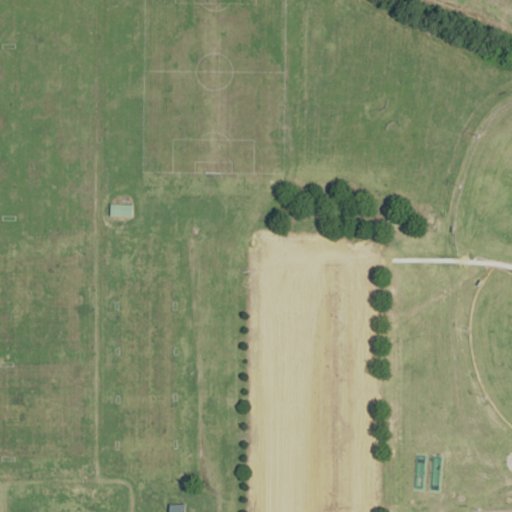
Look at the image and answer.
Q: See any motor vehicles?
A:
No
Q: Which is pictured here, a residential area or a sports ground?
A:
sports ground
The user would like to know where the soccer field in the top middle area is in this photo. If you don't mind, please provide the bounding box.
[144,0,286,174]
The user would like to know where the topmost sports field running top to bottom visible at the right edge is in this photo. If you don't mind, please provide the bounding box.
[456,104,512,254]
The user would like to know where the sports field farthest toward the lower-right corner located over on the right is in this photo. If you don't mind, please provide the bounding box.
[468,267,512,430]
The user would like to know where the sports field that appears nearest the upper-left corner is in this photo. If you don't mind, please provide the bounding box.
[0,44,92,220]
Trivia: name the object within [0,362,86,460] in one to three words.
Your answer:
sports field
